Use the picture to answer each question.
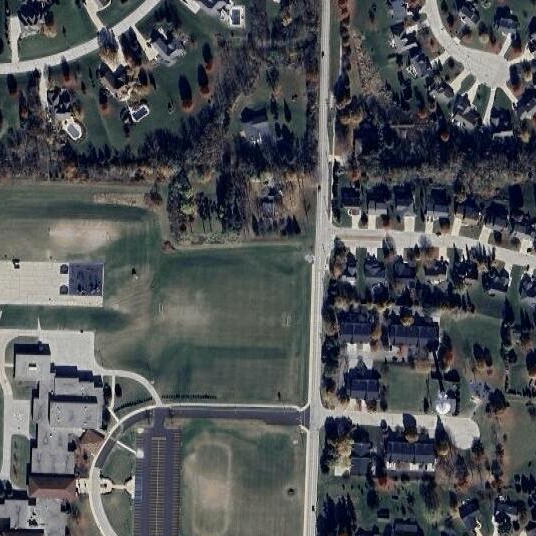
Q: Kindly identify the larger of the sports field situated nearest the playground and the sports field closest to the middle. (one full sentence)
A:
The sports field situated nearest the playground is smaller than the sports field closest to the middle.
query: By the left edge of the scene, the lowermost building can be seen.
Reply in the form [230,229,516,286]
[0,354,103,536]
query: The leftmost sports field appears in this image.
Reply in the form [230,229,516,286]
[37,215,121,255]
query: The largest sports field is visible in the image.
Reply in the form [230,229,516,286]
[158,273,294,388]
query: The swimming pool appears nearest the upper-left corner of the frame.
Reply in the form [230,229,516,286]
[66,122,82,140]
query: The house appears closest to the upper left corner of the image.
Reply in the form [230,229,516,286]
[15,2,58,27]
